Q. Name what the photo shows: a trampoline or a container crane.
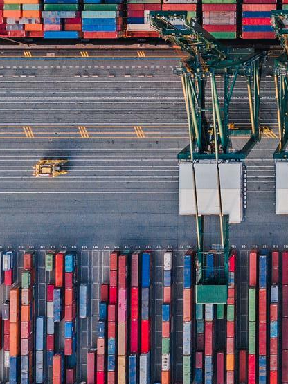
container crane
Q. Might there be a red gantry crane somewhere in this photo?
No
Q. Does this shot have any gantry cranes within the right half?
Yes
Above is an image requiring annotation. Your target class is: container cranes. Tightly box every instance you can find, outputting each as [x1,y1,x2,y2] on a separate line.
[265,10,288,212]
[149,10,275,306]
